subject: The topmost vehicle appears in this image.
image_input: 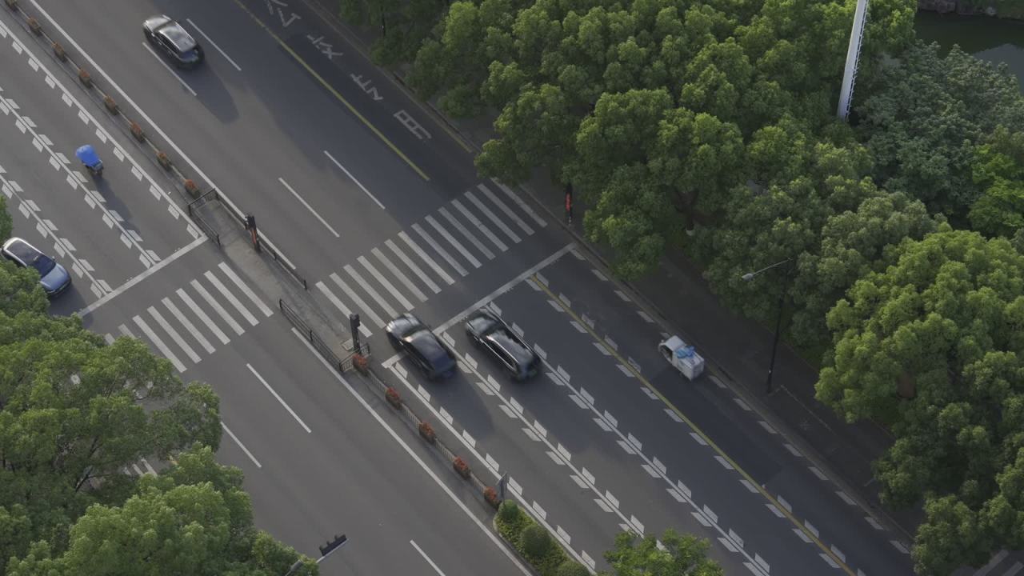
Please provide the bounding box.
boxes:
[142,7,202,61]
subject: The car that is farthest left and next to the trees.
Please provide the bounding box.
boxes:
[0,238,69,296]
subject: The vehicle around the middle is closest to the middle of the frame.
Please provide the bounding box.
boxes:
[463,306,538,377]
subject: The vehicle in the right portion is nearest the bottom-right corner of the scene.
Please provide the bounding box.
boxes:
[660,327,708,377]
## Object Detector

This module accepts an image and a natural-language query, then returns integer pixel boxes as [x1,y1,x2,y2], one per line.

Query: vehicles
[660,327,708,377]
[382,309,455,378]
[463,306,538,377]
[0,238,69,296]
[142,7,202,61]
[75,145,104,181]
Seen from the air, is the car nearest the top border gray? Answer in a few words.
Yes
